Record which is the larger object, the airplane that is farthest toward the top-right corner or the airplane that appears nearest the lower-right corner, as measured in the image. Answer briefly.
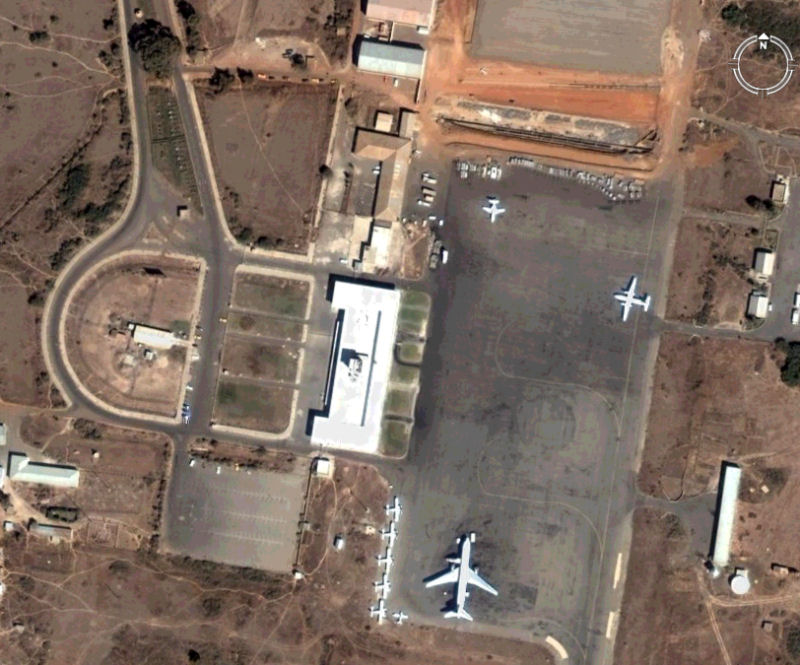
the airplane that appears nearest the lower-right corner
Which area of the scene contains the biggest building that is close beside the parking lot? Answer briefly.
center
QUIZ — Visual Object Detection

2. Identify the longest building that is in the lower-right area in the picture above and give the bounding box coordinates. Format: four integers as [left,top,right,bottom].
[712,467,744,567]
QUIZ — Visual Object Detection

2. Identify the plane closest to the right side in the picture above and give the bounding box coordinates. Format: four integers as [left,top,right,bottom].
[615,277,652,321]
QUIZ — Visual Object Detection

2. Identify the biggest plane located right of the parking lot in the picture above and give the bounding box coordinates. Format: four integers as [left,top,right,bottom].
[427,536,498,620]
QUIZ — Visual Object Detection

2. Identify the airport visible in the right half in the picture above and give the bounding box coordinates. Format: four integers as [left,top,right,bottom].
[376,148,800,665]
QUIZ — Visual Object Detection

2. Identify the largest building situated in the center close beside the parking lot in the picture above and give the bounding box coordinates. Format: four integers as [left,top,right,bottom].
[311,281,400,453]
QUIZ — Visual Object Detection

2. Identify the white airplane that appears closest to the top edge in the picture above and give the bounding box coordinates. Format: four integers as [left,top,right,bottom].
[482,198,505,223]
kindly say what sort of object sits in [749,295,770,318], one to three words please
shed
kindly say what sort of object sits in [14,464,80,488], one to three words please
house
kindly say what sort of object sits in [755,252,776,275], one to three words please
shed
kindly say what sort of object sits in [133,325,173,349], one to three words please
building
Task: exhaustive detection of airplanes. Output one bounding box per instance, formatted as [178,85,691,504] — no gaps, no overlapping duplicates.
[379,548,395,571]
[482,198,505,223]
[382,523,398,547]
[387,499,402,522]
[371,601,387,624]
[615,277,652,321]
[393,611,405,624]
[427,536,498,620]
[376,574,391,598]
